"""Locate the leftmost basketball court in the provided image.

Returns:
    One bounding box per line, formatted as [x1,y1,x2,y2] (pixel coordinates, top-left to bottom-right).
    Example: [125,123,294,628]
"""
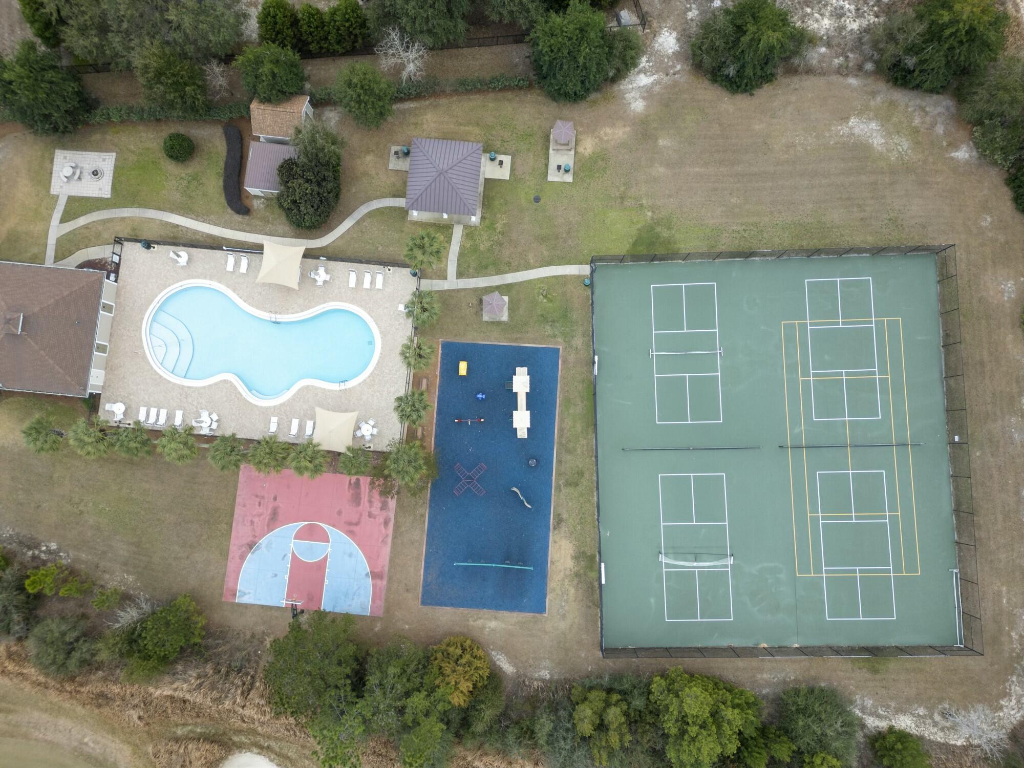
[223,465,397,616]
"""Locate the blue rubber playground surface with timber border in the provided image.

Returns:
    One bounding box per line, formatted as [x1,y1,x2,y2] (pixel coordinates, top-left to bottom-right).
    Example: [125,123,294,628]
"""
[419,339,562,616]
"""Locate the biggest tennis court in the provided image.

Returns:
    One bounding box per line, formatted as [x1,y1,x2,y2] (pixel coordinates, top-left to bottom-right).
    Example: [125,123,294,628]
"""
[594,254,963,649]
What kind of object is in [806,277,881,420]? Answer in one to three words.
sports court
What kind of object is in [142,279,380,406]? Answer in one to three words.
swimming pool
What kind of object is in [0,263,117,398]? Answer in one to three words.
building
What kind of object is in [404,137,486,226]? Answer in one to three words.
building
